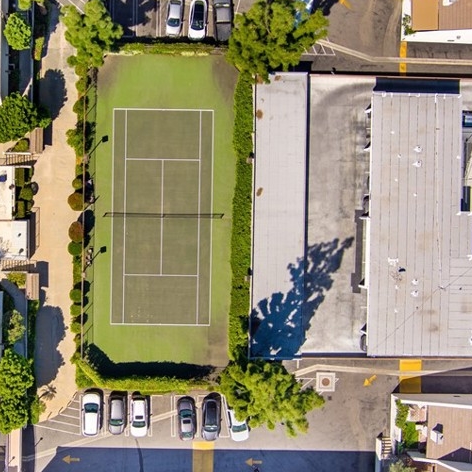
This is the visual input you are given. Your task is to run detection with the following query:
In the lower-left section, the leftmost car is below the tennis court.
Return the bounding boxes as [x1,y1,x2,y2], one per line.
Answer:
[81,391,102,435]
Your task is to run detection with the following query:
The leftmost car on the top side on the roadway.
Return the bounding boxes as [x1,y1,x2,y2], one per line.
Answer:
[165,0,185,38]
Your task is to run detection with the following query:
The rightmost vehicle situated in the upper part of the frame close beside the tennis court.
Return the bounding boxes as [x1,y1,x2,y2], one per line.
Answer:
[211,0,233,42]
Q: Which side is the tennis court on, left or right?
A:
left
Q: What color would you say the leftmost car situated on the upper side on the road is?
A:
white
